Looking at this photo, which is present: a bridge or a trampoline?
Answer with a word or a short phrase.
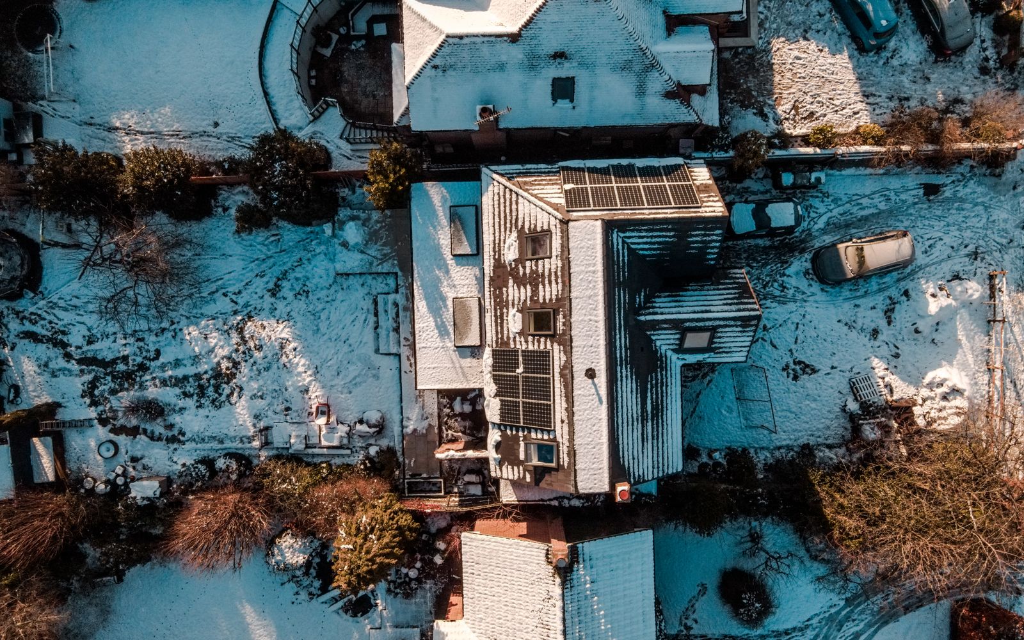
trampoline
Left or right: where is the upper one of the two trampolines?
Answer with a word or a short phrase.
left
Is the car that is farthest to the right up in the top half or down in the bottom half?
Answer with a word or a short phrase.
top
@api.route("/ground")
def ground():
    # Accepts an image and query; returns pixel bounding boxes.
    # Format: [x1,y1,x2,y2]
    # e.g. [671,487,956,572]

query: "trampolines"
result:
[14,4,70,58]
[0,226,47,301]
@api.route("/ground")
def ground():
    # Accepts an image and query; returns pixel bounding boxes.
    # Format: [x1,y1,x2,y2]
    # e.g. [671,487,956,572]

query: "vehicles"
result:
[910,0,979,61]
[726,194,810,241]
[822,0,903,57]
[808,230,918,285]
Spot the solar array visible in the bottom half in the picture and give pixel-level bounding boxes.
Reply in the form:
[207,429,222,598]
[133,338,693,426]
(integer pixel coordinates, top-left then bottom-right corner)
[488,348,550,430]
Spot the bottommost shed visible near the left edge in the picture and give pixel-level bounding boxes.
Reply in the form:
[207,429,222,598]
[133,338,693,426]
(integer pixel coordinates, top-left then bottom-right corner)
[0,425,42,501]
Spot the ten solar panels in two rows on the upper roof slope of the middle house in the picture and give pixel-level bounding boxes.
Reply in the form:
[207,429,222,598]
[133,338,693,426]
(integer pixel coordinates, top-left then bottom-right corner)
[560,161,704,208]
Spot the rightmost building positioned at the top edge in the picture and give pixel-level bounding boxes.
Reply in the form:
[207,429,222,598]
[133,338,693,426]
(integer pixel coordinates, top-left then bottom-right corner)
[390,0,745,164]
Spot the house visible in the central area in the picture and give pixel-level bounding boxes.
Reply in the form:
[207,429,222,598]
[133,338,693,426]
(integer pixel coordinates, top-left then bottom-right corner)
[408,158,766,507]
